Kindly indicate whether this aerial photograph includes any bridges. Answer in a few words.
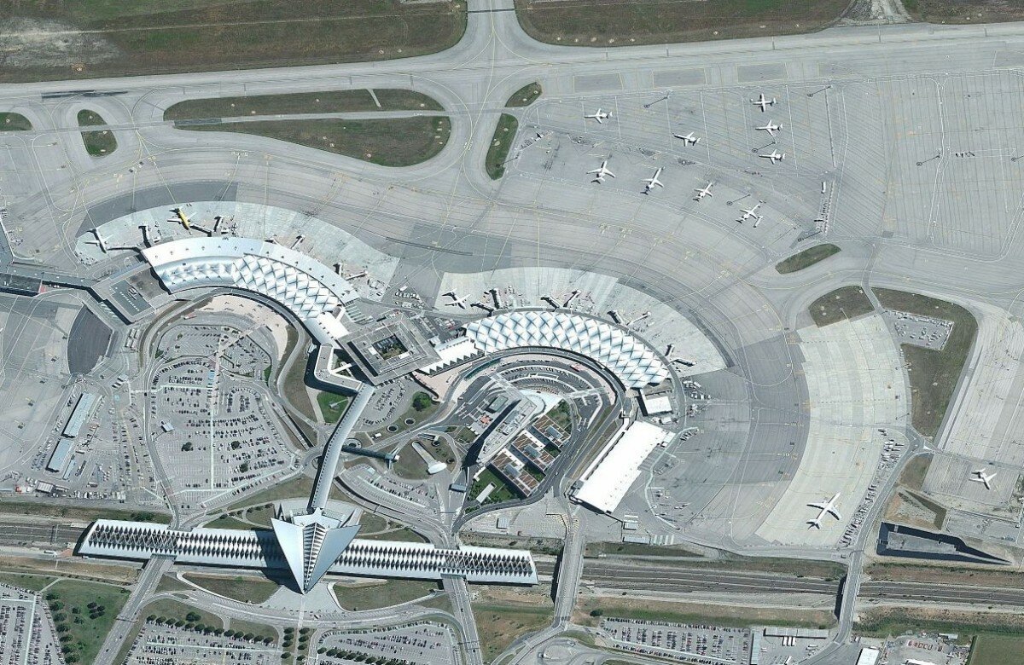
Yes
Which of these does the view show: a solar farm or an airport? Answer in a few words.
airport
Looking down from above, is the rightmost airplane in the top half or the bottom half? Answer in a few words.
bottom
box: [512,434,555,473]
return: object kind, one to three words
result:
building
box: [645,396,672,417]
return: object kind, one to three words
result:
building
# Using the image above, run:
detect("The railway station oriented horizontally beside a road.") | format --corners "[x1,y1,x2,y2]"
[77,520,538,584]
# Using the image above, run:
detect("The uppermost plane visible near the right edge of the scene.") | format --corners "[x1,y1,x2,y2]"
[971,467,994,489]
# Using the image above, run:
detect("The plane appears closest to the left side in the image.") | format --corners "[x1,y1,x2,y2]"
[86,226,110,252]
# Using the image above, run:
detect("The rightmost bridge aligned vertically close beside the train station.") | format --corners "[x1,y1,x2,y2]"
[553,522,584,617]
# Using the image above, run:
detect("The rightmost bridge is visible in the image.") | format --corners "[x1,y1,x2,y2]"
[797,546,865,665]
